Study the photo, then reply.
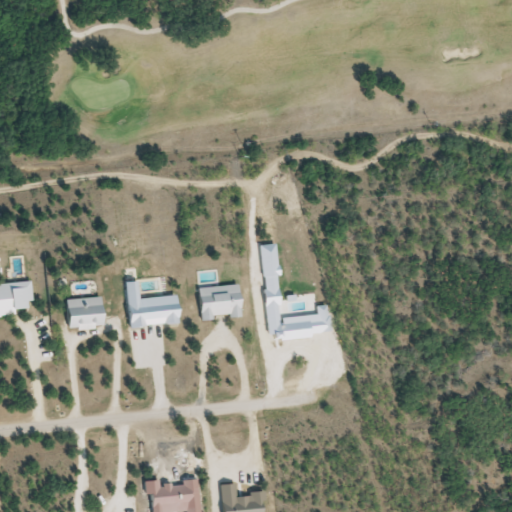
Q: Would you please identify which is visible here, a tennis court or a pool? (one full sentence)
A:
I can see a pool in this picture.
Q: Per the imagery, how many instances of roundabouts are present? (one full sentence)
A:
There are no roundabouts in this view.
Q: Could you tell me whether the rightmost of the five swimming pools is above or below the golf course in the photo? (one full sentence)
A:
Looking at the scene, the rightmost of the five swimming pools is located below the golf course.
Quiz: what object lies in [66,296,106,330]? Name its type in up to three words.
house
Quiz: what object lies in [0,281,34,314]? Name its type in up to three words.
house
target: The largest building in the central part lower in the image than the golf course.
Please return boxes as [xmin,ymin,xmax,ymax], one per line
[260,244,332,341]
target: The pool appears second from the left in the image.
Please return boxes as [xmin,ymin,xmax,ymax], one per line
[68,280,97,295]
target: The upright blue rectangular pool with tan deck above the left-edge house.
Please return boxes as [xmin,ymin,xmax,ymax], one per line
[7,256,26,278]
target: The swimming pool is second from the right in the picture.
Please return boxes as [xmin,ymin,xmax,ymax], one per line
[198,270,218,285]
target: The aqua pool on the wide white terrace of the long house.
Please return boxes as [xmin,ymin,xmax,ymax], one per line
[282,294,316,314]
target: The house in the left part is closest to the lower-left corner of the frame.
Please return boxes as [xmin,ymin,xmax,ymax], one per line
[145,480,204,512]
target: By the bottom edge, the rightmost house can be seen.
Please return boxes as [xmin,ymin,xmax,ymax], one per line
[220,483,268,512]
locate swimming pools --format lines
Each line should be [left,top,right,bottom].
[7,256,26,278]
[198,270,218,285]
[282,294,316,314]
[136,277,162,294]
[68,280,97,295]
